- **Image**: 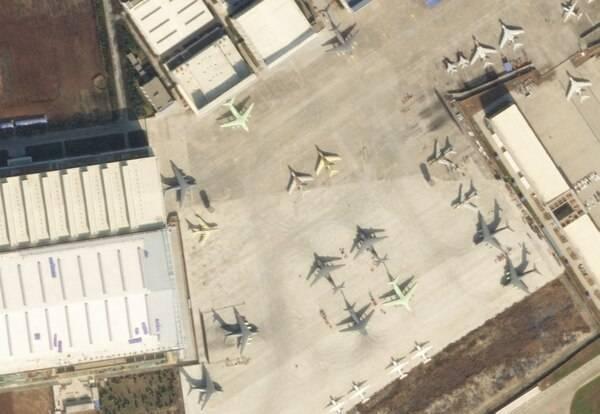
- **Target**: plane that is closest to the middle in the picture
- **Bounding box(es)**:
[288,168,315,196]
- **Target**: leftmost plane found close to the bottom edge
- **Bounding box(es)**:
[188,369,223,410]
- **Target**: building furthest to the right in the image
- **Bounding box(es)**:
[564,214,600,285]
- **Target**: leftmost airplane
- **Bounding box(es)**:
[161,166,196,206]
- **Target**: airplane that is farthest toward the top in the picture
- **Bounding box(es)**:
[563,2,580,23]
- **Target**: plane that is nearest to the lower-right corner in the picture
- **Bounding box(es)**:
[501,255,536,292]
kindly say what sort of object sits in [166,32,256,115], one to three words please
hangar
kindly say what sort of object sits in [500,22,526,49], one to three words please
airplane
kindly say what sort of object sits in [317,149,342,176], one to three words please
airplane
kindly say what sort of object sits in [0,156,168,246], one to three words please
building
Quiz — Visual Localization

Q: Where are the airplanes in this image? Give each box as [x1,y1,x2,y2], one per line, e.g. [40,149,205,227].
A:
[383,278,418,310]
[427,139,455,166]
[220,99,255,132]
[310,258,345,292]
[288,168,315,196]
[325,25,360,58]
[500,22,526,49]
[475,217,510,253]
[339,304,375,338]
[317,149,342,176]
[223,314,260,354]
[327,399,347,414]
[389,362,409,378]
[567,74,592,101]
[349,385,369,402]
[161,166,196,206]
[501,255,536,292]
[563,2,580,23]
[353,231,388,264]
[188,369,223,410]
[192,217,221,245]
[411,344,432,361]
[451,183,480,210]
[460,56,470,70]
[471,39,498,67]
